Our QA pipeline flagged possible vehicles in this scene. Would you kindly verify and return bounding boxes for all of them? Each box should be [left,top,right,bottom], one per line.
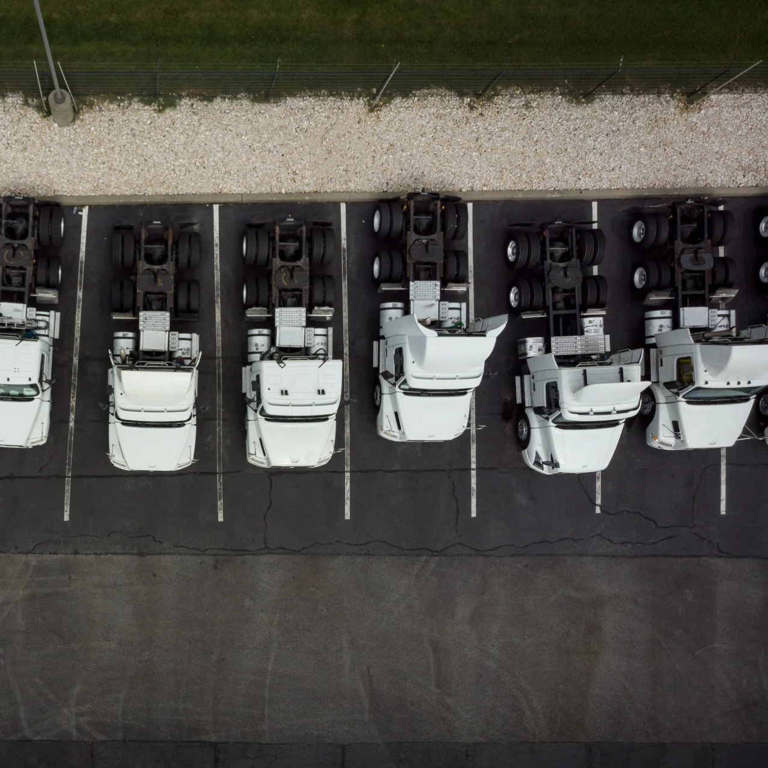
[242,213,356,471]
[373,186,506,446]
[504,217,649,477]
[97,216,210,474]
[630,195,768,453]
[0,191,65,450]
